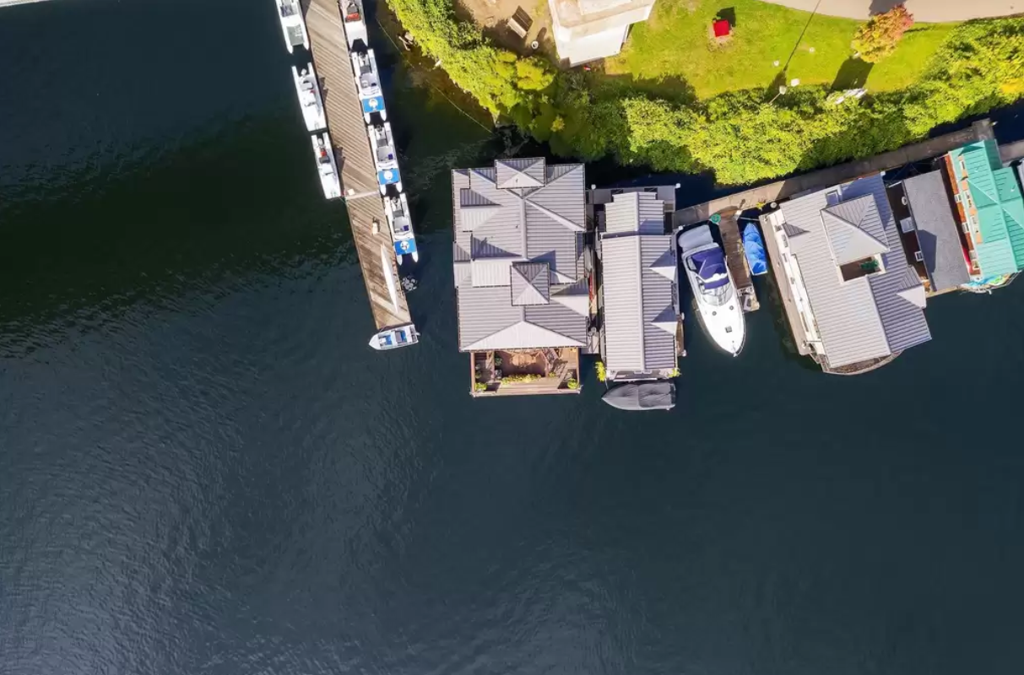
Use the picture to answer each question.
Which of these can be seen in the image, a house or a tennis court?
house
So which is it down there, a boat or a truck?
boat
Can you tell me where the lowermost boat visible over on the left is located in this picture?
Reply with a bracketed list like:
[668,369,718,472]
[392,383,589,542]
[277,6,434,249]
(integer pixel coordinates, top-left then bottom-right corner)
[368,325,421,348]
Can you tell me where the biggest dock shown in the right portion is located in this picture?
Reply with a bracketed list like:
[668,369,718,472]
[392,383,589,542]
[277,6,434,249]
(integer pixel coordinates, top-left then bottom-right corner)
[718,213,759,310]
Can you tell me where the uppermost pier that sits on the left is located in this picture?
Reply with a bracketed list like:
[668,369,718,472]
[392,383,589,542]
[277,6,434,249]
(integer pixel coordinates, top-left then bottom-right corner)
[298,0,414,332]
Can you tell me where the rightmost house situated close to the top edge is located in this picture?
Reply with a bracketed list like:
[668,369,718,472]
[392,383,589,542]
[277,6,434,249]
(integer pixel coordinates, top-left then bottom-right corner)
[547,0,665,68]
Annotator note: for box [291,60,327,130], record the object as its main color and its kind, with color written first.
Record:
white boat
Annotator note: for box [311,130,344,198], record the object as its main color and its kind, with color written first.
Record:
white boat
